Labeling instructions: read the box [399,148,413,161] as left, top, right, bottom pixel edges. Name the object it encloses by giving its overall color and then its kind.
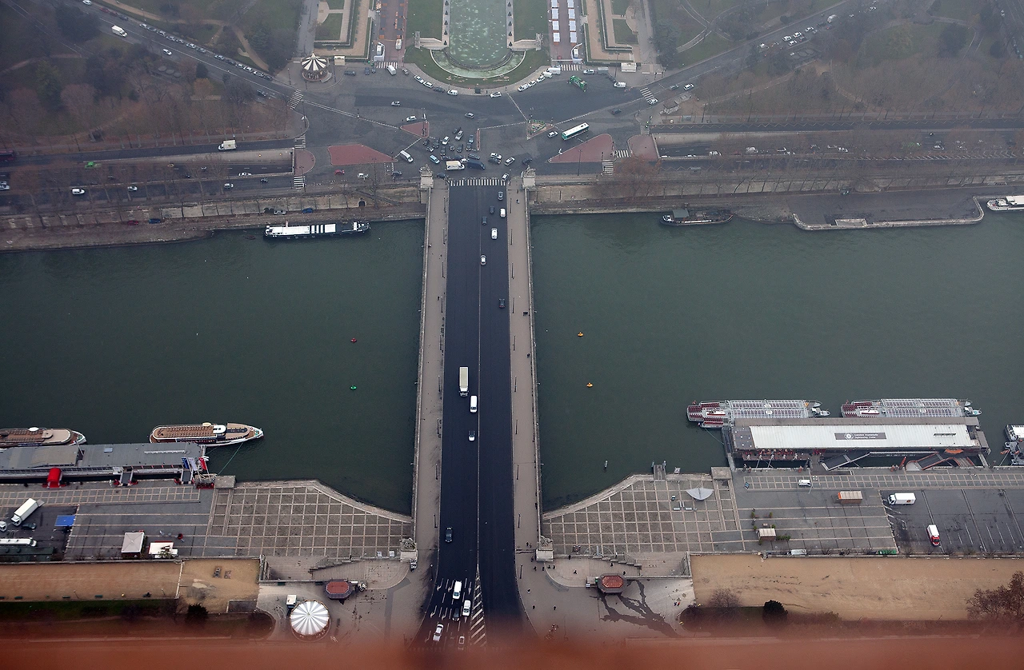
white vehicle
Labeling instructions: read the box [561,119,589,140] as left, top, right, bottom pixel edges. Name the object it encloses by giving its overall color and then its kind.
white bus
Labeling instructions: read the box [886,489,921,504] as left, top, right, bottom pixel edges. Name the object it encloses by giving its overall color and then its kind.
white vehicle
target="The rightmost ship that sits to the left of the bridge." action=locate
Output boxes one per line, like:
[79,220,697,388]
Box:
[262,220,371,242]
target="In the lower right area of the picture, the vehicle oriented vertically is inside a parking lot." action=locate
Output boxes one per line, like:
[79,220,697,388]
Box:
[926,517,945,549]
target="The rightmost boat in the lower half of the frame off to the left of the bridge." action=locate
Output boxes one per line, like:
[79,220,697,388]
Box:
[149,420,265,449]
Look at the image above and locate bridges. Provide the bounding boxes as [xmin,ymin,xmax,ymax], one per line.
[409,185,545,625]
